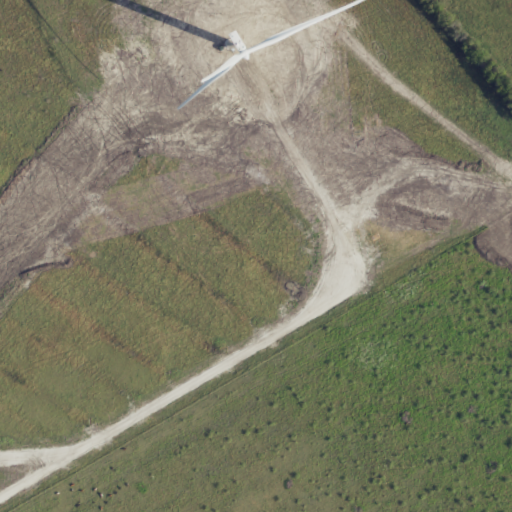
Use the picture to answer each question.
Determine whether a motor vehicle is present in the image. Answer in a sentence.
No, there's no motor vehicle here.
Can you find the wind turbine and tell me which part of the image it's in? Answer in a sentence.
The wind turbine is located in the top region of the scene.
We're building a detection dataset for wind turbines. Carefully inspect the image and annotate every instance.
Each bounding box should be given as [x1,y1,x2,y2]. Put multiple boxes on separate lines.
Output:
[180,0,368,107]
